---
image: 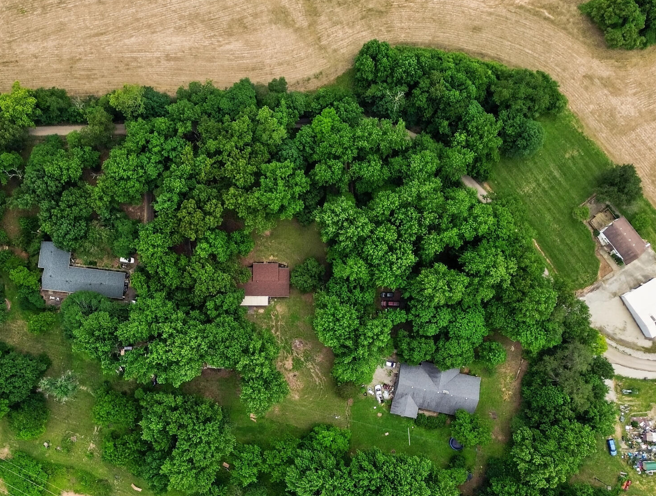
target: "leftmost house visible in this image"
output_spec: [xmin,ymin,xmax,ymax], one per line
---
[39,241,127,298]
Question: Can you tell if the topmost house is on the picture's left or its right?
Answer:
right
